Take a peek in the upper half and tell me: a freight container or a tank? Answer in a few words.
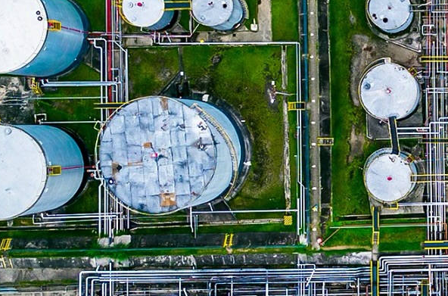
tank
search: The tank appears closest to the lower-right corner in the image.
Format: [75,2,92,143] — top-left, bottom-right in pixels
[361,147,416,208]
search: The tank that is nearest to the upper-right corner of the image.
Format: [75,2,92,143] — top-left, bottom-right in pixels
[364,0,417,38]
